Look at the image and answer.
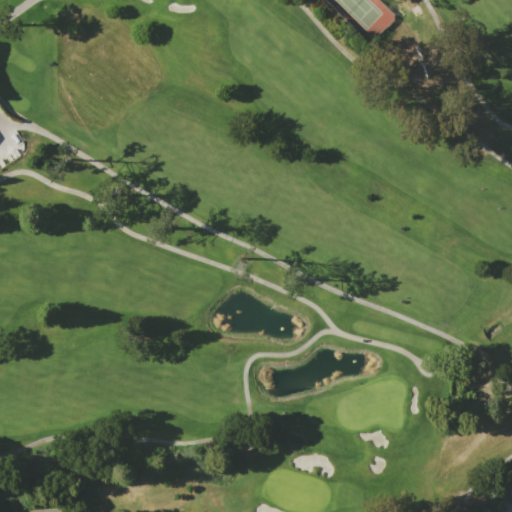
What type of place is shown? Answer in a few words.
golf course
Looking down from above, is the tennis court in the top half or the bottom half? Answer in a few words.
top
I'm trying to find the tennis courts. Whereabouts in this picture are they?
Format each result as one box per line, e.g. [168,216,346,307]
[331,0,393,40]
